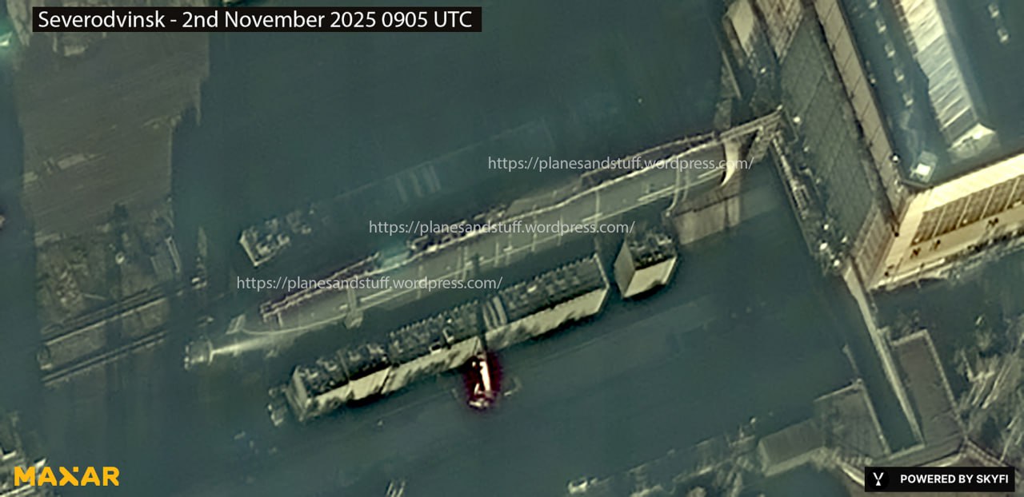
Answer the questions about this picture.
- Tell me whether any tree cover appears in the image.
No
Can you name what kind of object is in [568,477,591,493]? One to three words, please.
boat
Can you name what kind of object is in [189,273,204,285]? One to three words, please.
boat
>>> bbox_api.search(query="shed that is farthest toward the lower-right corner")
[756,417,831,475]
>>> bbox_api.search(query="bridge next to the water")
[723,112,784,147]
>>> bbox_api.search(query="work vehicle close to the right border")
[972,311,988,330]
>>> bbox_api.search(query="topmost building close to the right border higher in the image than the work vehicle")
[752,0,1024,291]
